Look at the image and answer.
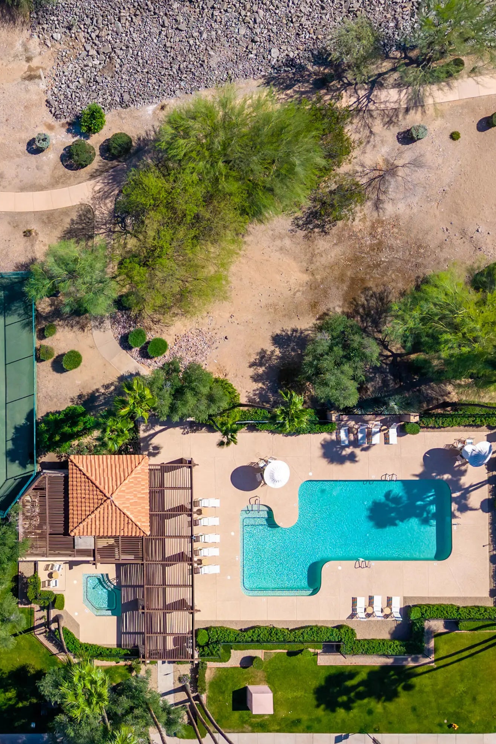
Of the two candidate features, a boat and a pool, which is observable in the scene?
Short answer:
pool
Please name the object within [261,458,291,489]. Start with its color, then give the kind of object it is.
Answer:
white umbrella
